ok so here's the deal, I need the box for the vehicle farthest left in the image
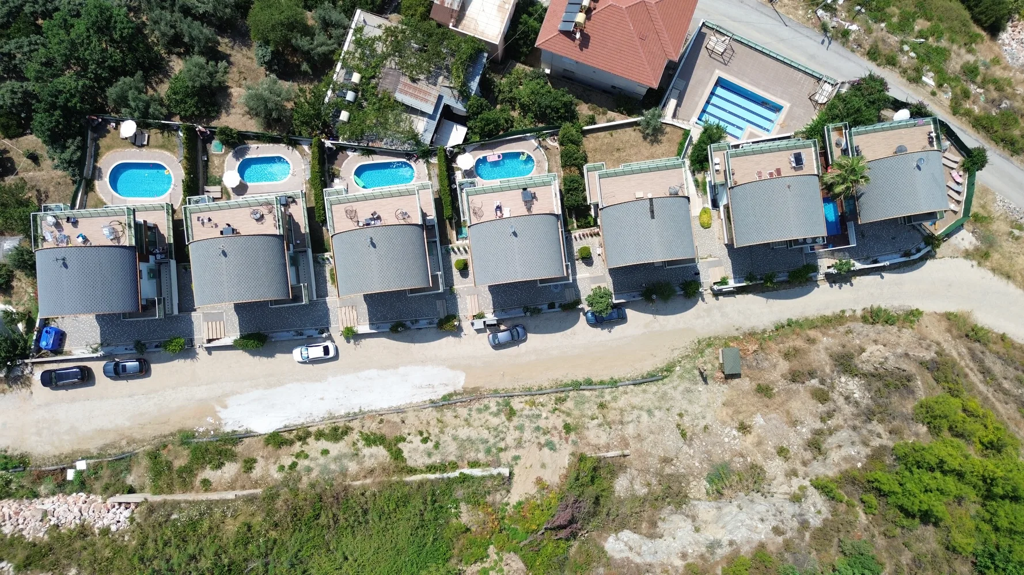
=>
[41,365,90,389]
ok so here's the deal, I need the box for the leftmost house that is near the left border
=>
[31,202,189,323]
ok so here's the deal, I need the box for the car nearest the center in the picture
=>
[487,324,528,349]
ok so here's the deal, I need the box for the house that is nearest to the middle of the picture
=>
[456,172,573,290]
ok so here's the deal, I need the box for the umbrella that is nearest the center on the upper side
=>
[454,151,478,174]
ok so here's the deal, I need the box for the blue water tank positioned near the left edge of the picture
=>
[37,326,70,351]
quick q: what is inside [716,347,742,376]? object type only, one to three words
shed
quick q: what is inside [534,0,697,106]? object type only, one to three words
house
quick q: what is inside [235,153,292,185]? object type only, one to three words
swimming pool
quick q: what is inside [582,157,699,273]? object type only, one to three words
house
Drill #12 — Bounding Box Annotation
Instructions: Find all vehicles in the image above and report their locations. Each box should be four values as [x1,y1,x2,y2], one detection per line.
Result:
[584,304,628,327]
[487,324,528,349]
[293,341,338,364]
[104,358,151,379]
[41,365,90,389]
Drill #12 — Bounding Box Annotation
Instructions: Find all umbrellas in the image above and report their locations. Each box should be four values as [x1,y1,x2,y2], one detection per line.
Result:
[222,169,245,190]
[118,120,141,140]
[454,151,478,174]
[888,108,910,124]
